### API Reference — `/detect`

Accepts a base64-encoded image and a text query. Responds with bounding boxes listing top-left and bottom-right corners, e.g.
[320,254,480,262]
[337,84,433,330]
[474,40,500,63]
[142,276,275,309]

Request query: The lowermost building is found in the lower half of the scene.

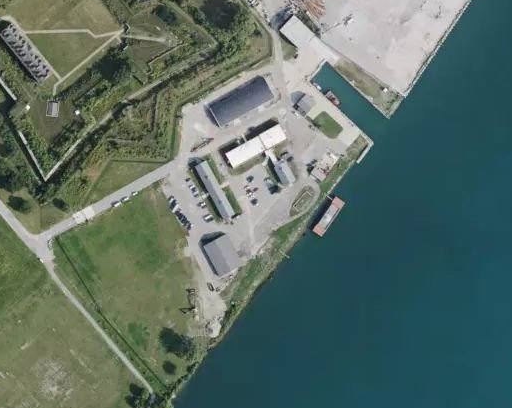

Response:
[203,233,244,278]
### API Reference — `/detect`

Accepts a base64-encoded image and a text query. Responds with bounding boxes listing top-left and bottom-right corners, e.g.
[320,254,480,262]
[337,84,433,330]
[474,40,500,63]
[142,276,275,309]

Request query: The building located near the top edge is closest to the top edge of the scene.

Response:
[280,14,316,50]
